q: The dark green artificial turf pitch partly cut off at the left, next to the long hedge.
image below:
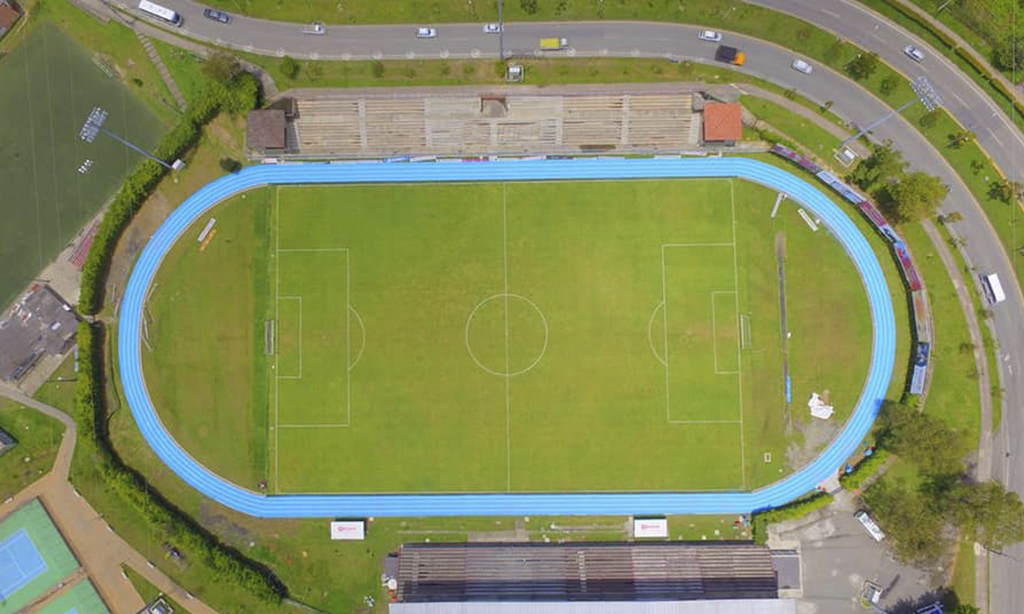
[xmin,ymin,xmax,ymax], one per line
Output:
[0,20,167,310]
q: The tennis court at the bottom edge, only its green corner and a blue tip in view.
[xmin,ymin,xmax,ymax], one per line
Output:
[34,578,108,614]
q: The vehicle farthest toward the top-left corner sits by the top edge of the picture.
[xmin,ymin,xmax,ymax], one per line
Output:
[138,0,186,27]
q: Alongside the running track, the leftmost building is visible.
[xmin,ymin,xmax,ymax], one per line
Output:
[0,287,86,384]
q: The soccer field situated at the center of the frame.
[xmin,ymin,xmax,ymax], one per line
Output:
[268,180,748,495]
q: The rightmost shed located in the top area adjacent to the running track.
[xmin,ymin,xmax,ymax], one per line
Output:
[700,102,742,146]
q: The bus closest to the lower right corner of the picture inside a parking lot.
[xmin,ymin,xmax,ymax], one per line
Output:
[850,508,885,543]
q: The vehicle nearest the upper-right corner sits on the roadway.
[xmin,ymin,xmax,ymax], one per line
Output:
[904,46,924,61]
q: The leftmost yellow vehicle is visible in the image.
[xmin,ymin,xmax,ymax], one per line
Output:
[540,36,567,50]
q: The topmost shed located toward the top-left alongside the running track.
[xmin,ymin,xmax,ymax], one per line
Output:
[247,109,290,153]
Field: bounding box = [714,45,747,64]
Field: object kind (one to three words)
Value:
vehicle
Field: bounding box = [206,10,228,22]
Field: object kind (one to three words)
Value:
vehicle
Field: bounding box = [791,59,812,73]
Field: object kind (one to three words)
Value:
car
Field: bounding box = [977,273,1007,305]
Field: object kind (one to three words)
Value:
bus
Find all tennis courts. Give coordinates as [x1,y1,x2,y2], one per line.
[0,498,79,614]
[34,578,108,614]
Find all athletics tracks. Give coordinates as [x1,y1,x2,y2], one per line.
[119,157,896,518]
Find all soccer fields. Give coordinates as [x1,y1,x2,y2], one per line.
[268,180,748,495]
[0,20,167,310]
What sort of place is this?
sports ground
